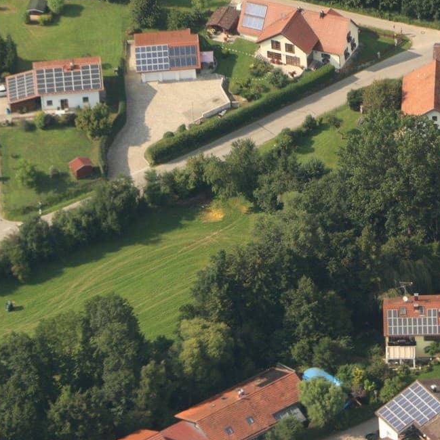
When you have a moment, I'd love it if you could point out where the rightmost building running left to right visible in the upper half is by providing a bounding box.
[237,0,360,69]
